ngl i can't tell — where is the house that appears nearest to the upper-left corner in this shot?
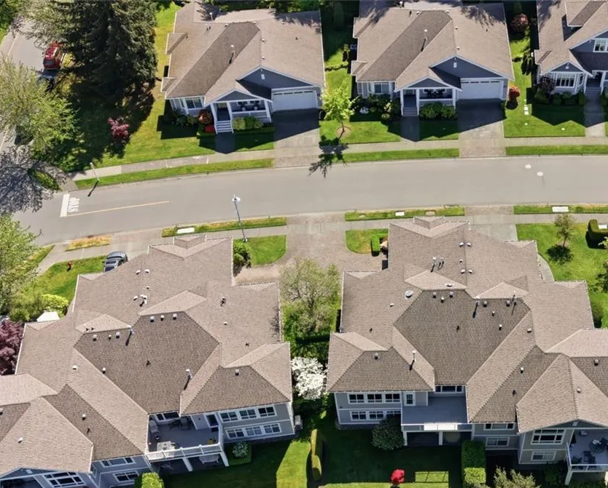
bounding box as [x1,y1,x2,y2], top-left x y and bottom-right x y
[159,0,328,130]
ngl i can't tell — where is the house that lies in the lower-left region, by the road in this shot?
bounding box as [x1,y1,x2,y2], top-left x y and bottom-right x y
[0,234,294,488]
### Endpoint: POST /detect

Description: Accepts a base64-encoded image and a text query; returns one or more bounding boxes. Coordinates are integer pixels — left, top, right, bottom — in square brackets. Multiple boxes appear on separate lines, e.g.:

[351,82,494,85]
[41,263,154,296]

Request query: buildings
[534,0,608,98]
[0,234,294,488]
[159,0,328,130]
[350,0,515,116]
[323,216,608,479]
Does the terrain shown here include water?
No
